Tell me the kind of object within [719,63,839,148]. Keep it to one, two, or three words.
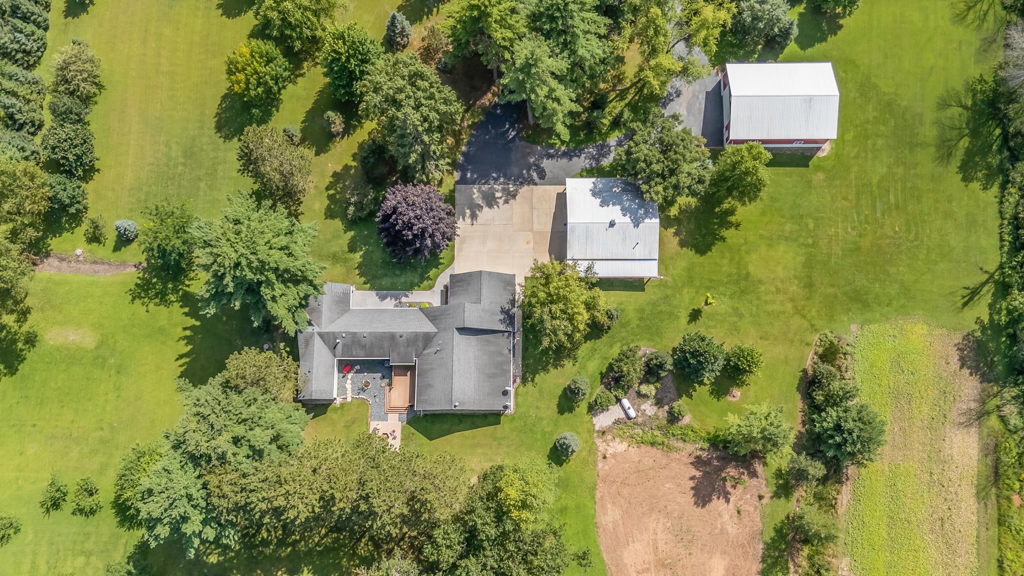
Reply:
barn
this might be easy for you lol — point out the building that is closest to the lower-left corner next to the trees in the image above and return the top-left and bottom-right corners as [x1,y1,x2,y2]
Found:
[295,271,516,414]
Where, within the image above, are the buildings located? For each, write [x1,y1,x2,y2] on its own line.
[719,63,839,148]
[295,271,516,414]
[565,179,659,280]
